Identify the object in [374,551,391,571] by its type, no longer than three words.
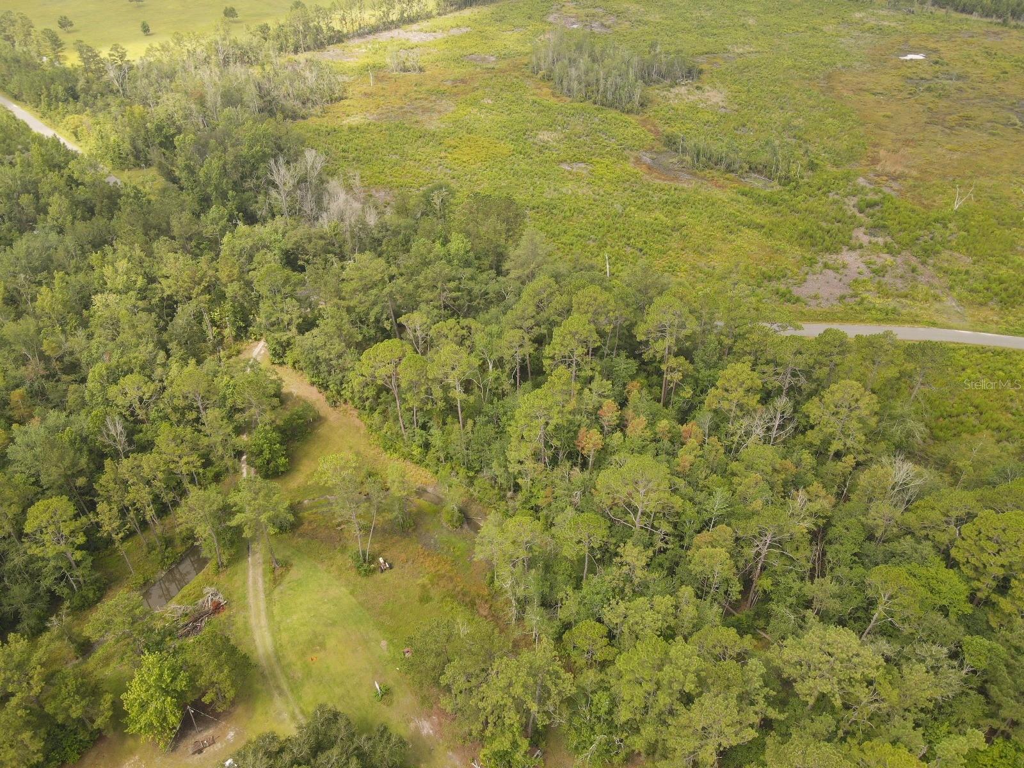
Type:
work vehicle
